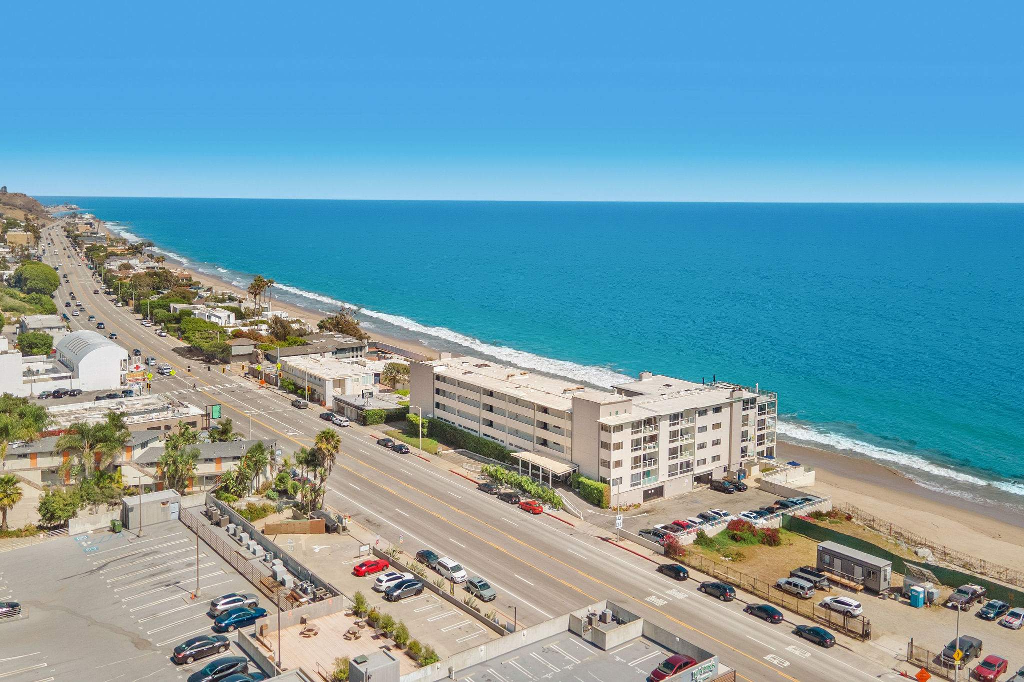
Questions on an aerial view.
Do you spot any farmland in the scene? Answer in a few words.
No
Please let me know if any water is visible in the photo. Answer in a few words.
Yes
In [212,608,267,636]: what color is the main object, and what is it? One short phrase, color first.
blue car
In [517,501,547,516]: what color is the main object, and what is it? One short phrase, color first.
red car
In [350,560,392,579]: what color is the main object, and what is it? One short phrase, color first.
red car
